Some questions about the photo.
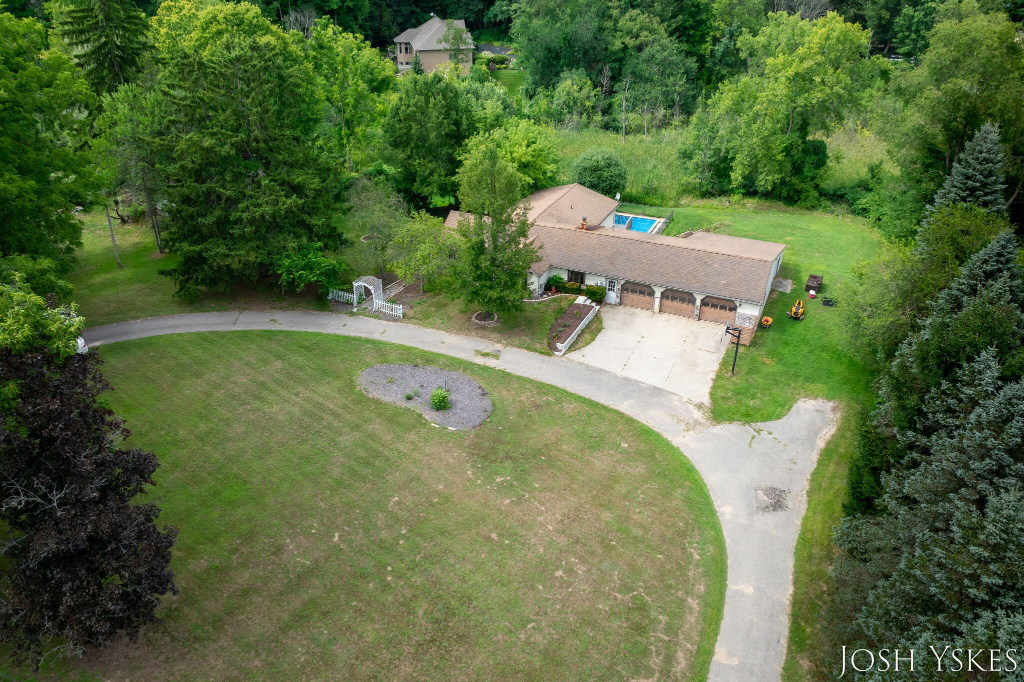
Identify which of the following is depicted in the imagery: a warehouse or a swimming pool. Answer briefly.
swimming pool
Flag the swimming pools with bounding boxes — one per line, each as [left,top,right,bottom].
[616,210,662,234]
